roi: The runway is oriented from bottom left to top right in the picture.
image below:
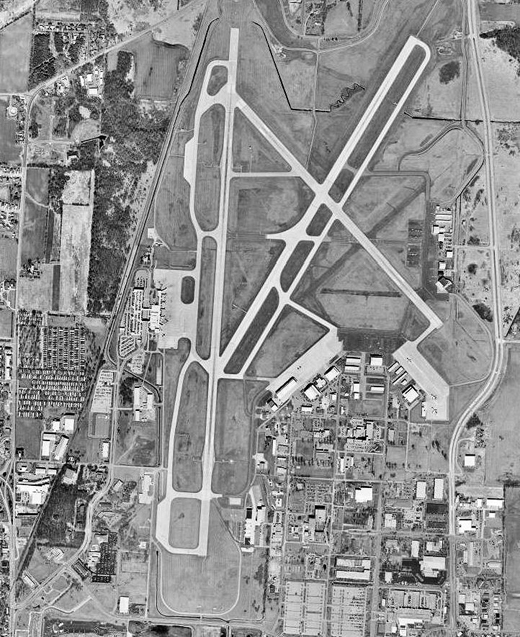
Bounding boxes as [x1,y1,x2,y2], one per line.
[218,36,418,375]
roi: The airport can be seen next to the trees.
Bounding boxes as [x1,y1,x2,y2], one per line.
[147,0,490,621]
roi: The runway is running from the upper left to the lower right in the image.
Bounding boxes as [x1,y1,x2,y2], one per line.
[236,90,443,329]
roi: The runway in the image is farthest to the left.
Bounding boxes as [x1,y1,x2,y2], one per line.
[199,28,239,556]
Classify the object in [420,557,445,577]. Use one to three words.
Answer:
building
